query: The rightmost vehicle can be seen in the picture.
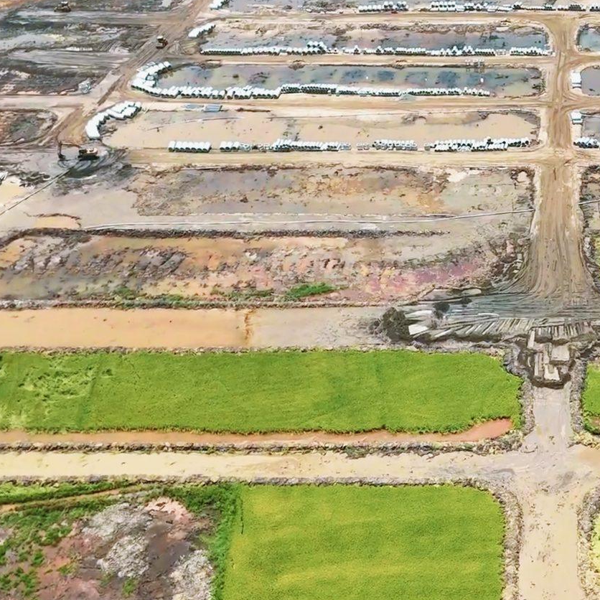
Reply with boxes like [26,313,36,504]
[149,37,168,49]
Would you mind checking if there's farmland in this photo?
Yes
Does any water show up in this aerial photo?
Yes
